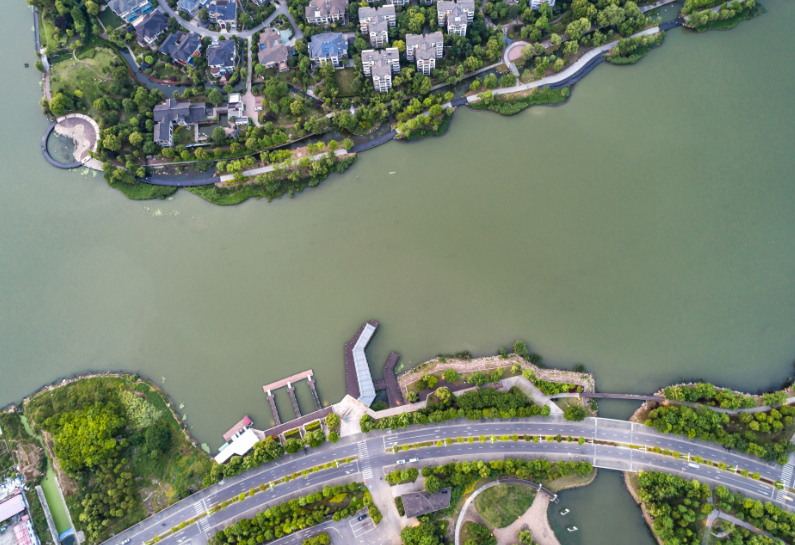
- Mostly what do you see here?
water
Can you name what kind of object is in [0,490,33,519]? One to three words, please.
shed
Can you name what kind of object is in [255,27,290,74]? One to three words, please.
house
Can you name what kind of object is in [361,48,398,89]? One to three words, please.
building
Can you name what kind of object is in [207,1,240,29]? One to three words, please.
house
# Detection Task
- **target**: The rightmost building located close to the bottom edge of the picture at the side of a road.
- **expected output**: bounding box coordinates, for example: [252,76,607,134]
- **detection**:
[401,485,451,519]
